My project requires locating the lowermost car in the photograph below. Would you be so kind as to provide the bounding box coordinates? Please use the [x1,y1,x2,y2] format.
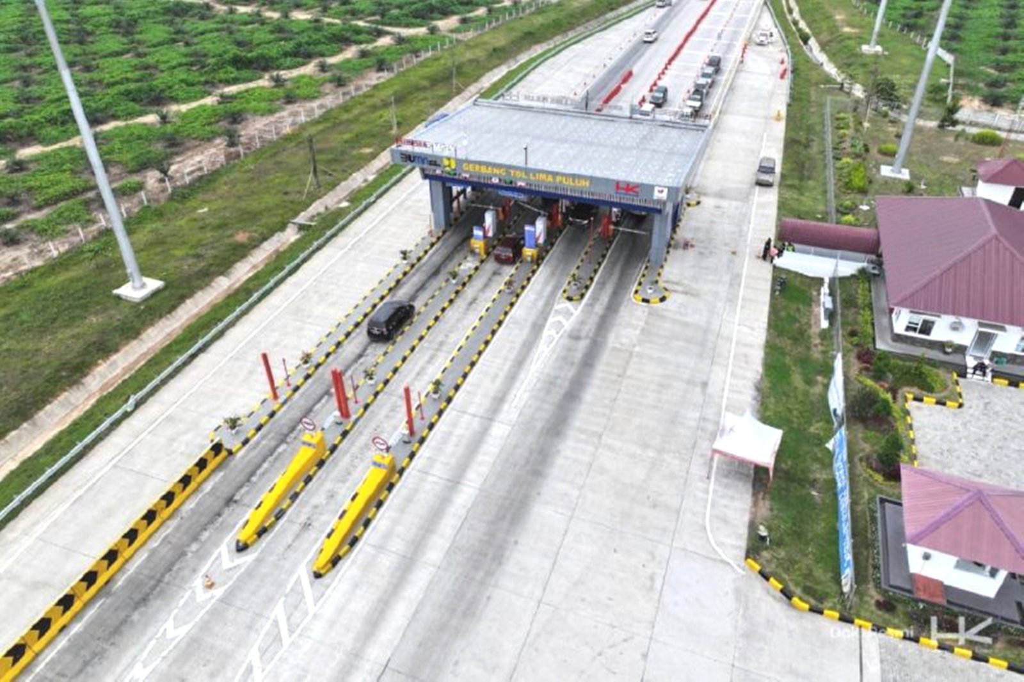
[365,296,417,341]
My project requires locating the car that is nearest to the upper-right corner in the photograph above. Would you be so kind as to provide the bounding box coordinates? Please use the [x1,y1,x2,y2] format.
[755,28,772,45]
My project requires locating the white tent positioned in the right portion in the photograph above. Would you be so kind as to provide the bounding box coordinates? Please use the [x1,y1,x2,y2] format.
[708,405,781,492]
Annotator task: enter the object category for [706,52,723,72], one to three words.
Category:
car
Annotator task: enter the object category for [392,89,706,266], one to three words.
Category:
toll station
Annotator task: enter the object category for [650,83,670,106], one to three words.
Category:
car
